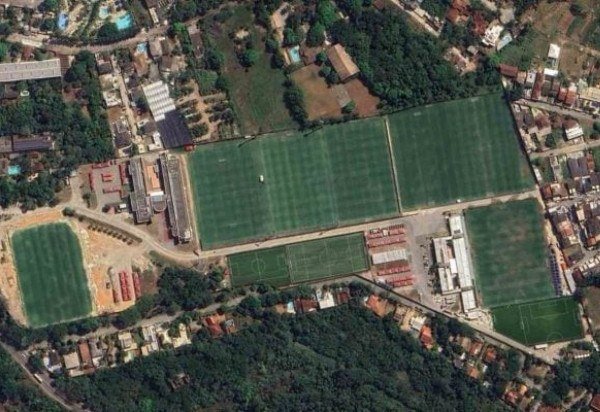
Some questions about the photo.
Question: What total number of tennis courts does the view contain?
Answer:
zero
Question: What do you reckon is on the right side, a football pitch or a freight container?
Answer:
football pitch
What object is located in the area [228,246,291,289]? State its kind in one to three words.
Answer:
soccer field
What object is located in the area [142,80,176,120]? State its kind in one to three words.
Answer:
building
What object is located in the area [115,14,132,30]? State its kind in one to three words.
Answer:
swimming pool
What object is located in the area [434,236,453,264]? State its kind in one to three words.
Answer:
building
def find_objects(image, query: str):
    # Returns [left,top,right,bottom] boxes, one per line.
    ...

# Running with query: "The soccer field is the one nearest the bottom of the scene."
[490,295,584,346]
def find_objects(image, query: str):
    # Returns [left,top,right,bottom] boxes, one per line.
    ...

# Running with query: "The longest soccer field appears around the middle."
[186,118,401,250]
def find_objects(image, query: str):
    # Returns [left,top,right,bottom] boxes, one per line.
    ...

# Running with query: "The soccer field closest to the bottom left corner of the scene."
[13,222,93,328]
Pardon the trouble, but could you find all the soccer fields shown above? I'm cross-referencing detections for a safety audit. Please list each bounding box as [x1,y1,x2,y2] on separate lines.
[228,246,291,289]
[288,233,370,281]
[13,222,93,328]
[186,118,401,250]
[465,198,558,307]
[388,94,536,210]
[490,295,584,346]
